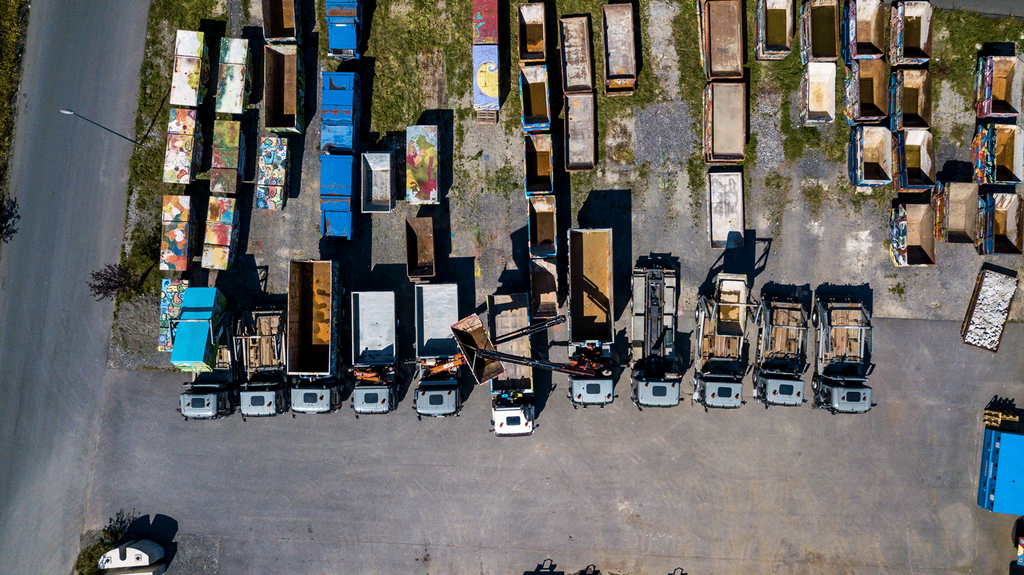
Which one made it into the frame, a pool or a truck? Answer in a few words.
truck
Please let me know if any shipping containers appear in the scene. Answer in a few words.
Yes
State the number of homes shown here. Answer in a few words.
zero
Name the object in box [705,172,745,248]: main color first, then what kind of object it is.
white shipping container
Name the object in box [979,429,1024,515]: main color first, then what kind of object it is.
blue shipping container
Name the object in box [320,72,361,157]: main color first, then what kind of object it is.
blue shipping container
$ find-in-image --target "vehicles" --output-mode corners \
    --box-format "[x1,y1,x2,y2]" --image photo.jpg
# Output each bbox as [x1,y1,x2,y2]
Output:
[813,302,877,424]
[164,307,236,430]
[487,393,541,447]
[348,290,399,425]
[230,305,291,428]
[409,283,467,426]
[629,266,684,418]
[693,297,759,419]
[286,351,341,424]
[474,344,624,415]
[751,295,811,416]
